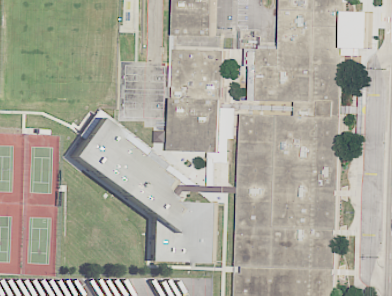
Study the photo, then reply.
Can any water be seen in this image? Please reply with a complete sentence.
No, there is no water in the image.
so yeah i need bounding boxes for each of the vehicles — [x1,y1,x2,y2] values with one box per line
[107,280,119,296]
[58,280,70,296]
[33,280,45,296]
[178,280,190,296]
[162,280,173,296]
[25,280,37,296]
[16,280,28,296]
[8,280,20,296]
[124,280,136,296]
[169,280,181,296]
[41,280,53,296]
[66,280,78,296]
[99,280,111,296]
[152,280,164,296]
[50,280,62,296]
[116,280,128,296]
[0,280,12,296]
[90,280,102,296]
[75,280,87,296]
